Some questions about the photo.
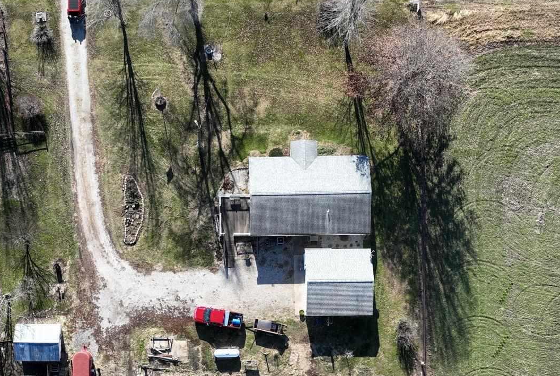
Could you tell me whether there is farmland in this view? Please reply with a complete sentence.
Yes, the picture does contain farmland.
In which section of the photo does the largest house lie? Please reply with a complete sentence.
The largest house sits in the center section of the image.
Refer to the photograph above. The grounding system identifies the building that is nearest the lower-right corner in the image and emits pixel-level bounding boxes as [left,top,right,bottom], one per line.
[302,247,377,317]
